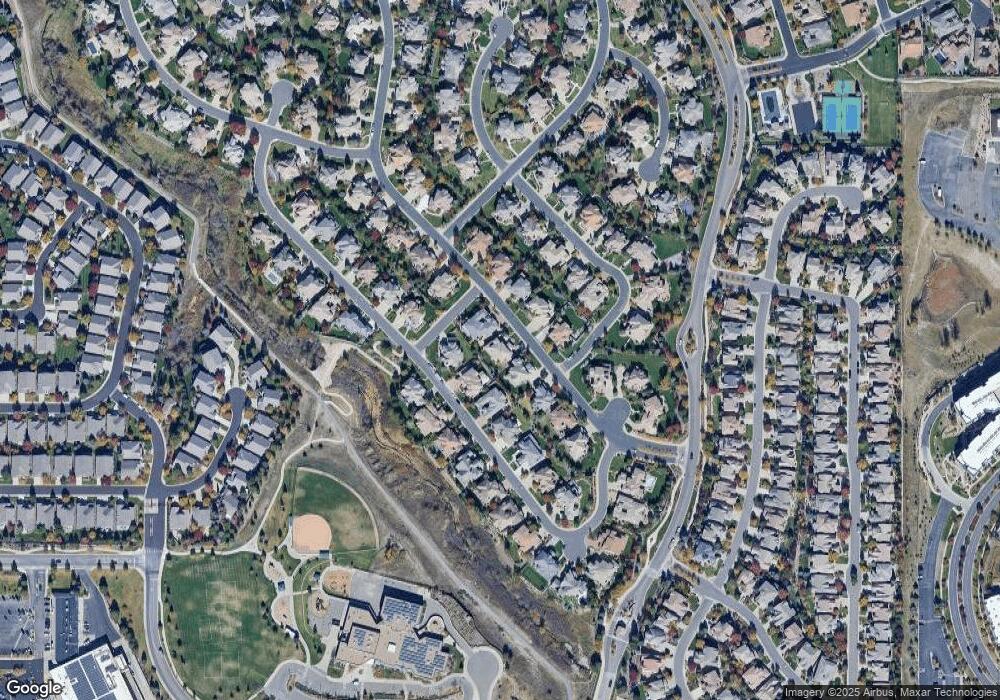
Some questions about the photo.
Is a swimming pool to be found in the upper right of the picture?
Yes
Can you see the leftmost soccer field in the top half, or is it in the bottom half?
bottom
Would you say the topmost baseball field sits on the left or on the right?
left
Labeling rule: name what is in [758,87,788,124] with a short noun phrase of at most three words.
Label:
swimming pool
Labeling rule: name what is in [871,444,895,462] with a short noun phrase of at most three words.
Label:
house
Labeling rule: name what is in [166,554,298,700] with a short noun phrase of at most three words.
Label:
soccer field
